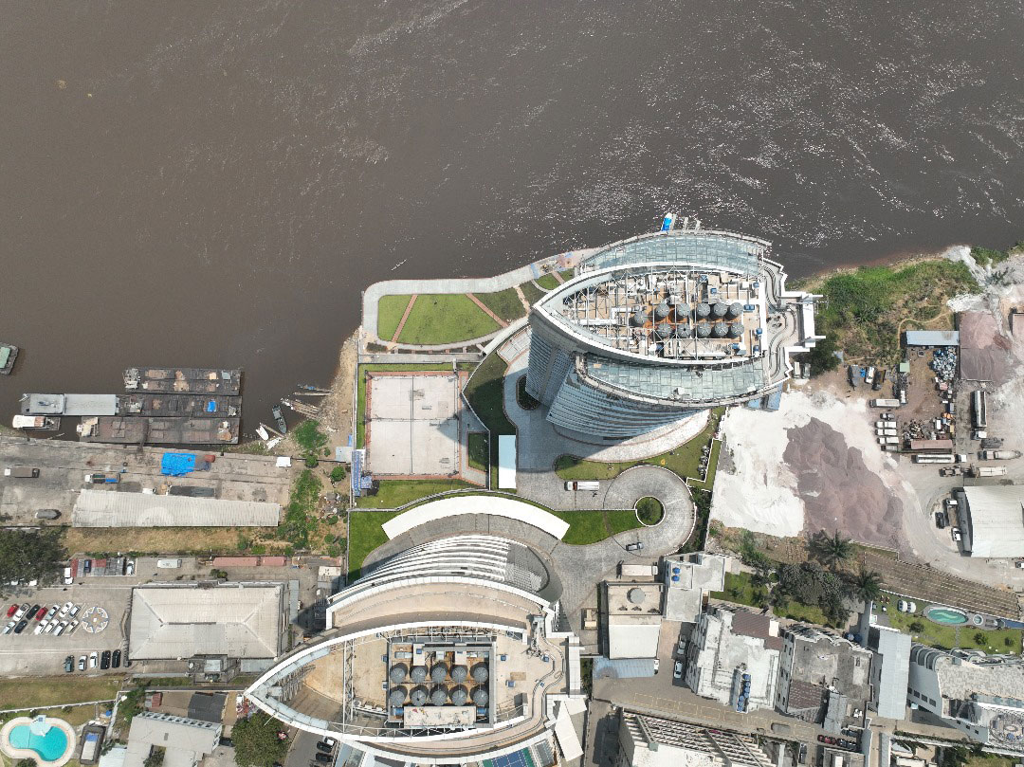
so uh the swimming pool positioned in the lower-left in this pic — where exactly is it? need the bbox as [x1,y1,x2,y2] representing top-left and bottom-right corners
[1,715,75,767]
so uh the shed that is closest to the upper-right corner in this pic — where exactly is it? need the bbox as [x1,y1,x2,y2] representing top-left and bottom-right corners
[900,330,959,348]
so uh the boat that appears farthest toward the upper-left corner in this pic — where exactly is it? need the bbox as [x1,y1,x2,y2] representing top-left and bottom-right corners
[0,343,21,375]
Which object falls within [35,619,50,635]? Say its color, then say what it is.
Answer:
white car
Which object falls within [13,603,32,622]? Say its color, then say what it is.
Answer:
white vehicle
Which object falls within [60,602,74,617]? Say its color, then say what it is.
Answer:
white car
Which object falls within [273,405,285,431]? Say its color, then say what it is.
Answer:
gray boat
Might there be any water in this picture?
Yes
